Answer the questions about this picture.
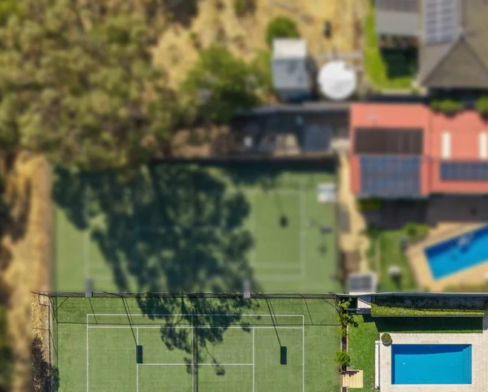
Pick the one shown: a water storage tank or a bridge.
water storage tank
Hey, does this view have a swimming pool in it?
Yes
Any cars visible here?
No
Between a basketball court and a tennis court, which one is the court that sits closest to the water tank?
tennis court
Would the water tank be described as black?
No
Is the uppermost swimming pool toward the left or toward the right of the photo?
right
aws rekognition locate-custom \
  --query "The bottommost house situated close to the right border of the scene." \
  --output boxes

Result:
[351,103,488,200]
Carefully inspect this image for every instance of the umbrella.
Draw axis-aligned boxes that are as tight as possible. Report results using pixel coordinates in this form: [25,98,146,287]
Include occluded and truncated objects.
[387,264,400,278]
